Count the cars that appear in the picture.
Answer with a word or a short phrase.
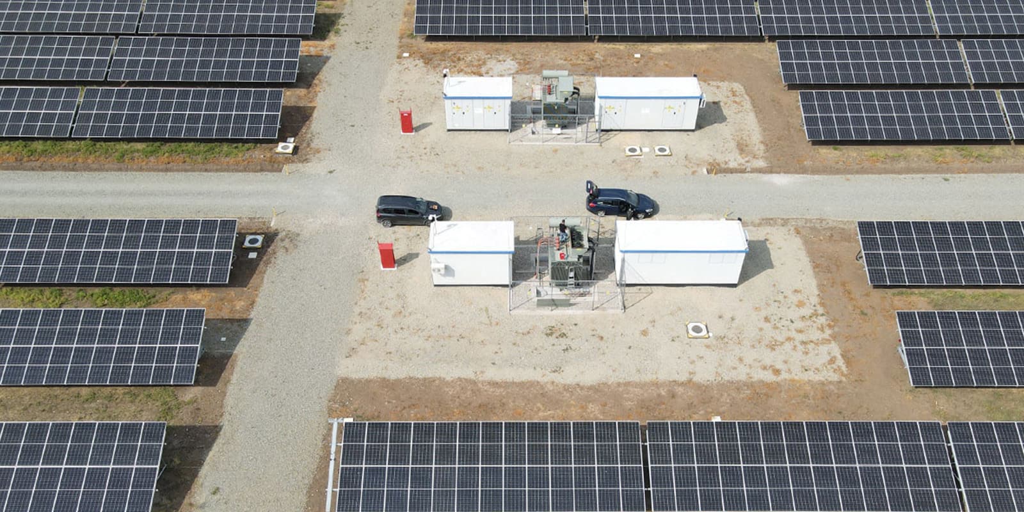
2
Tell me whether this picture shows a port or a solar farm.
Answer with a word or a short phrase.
solar farm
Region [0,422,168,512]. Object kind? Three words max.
solar array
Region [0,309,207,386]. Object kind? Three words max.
solar array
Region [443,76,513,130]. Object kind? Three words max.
building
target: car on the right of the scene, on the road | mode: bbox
[583,181,655,219]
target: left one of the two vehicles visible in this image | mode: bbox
[375,192,444,227]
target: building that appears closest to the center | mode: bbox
[427,219,516,285]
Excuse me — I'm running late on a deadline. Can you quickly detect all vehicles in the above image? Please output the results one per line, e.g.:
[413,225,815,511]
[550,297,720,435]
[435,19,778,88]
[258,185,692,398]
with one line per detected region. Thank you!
[375,192,444,227]
[583,181,655,219]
